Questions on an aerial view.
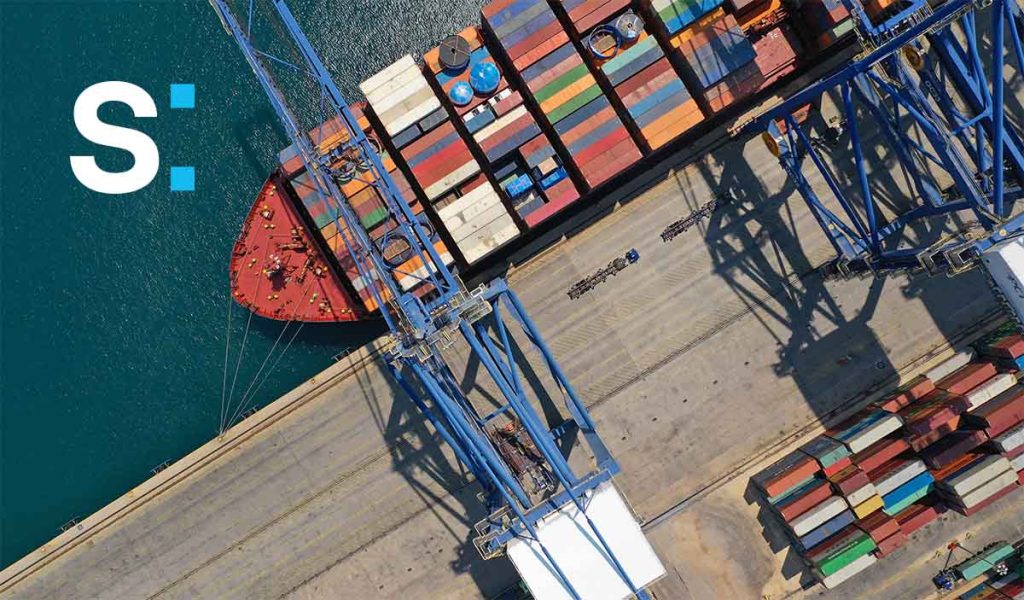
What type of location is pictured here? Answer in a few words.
port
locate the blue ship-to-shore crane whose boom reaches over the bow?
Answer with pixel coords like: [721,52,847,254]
[203,0,668,600]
